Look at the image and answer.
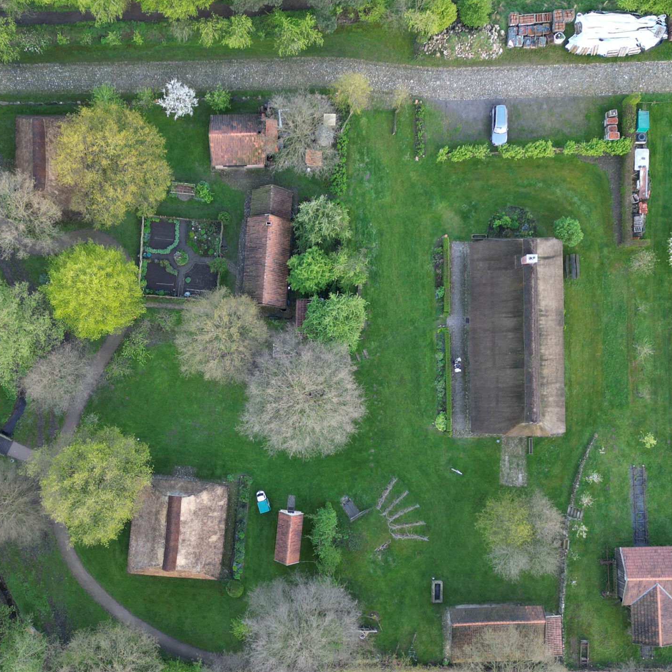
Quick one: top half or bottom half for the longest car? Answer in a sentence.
The top half of the photo is where the longest car is.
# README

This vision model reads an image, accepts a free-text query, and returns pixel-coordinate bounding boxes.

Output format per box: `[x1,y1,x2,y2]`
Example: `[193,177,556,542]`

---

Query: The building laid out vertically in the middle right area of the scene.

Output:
[469,229,565,436]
